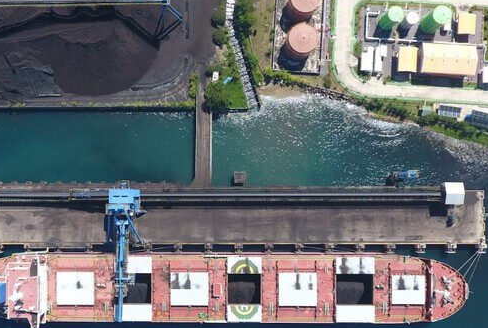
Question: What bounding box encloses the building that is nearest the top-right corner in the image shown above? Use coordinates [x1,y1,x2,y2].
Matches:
[452,13,476,38]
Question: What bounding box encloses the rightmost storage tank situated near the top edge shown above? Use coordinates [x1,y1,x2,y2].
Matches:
[420,5,452,33]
